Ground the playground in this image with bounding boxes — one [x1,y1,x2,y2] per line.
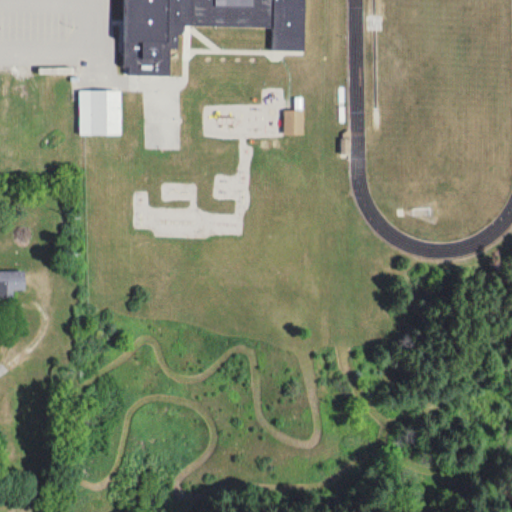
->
[134,89,284,239]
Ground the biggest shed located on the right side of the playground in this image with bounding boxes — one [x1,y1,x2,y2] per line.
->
[284,111,304,136]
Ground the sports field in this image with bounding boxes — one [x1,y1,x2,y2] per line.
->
[366,0,512,243]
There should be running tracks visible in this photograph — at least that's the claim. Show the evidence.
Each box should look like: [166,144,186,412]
[348,0,512,260]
